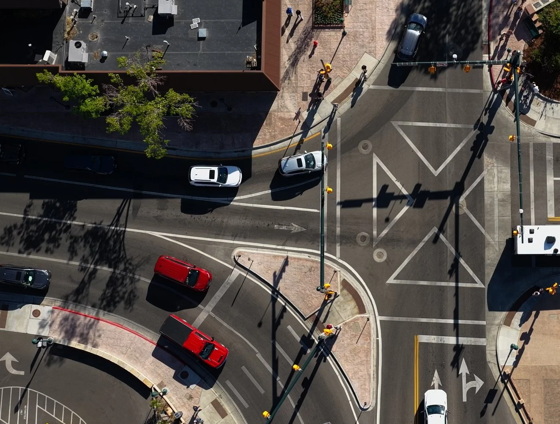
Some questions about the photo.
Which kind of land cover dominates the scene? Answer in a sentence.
For the most part, this view shows paved ground.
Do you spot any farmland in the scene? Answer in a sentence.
No, there's no farmland in this view.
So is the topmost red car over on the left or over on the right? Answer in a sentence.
The topmost red car sits on the left side.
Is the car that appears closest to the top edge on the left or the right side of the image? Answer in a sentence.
The car that appears closest to the top edge appears in the right half of the scene.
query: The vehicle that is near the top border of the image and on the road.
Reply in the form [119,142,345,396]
[396,12,429,61]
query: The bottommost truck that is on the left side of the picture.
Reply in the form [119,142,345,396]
[159,314,231,367]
